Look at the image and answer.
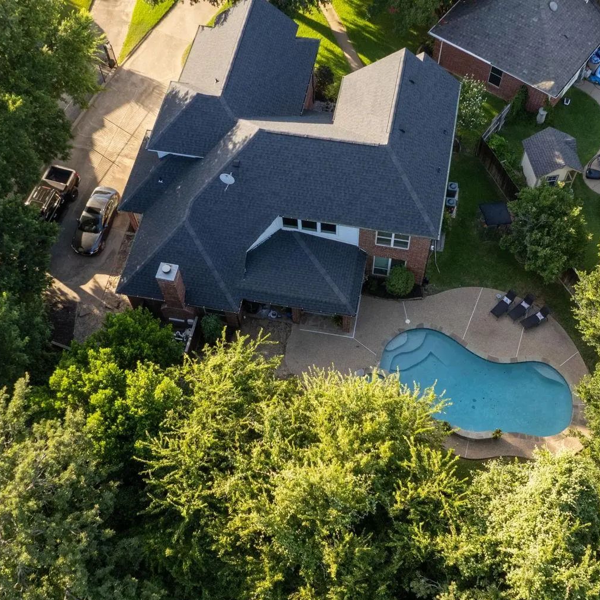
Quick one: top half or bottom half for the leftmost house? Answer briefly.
top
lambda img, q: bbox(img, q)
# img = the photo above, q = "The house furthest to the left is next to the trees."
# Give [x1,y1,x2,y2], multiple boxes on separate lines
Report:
[117,0,460,334]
